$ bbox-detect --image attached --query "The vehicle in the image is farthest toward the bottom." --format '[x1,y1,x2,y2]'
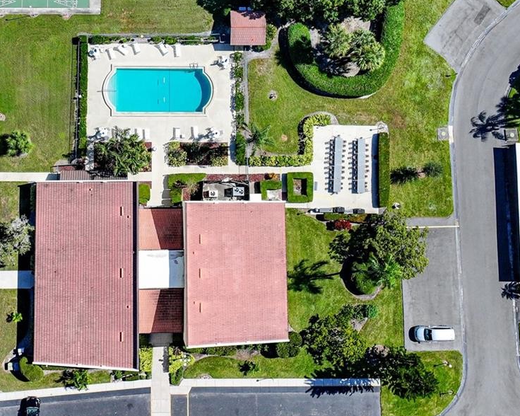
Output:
[21,393,38,416]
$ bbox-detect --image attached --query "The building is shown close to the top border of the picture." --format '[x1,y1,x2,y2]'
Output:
[230,7,266,45]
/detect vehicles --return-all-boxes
[21,393,38,416]
[415,327,455,345]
